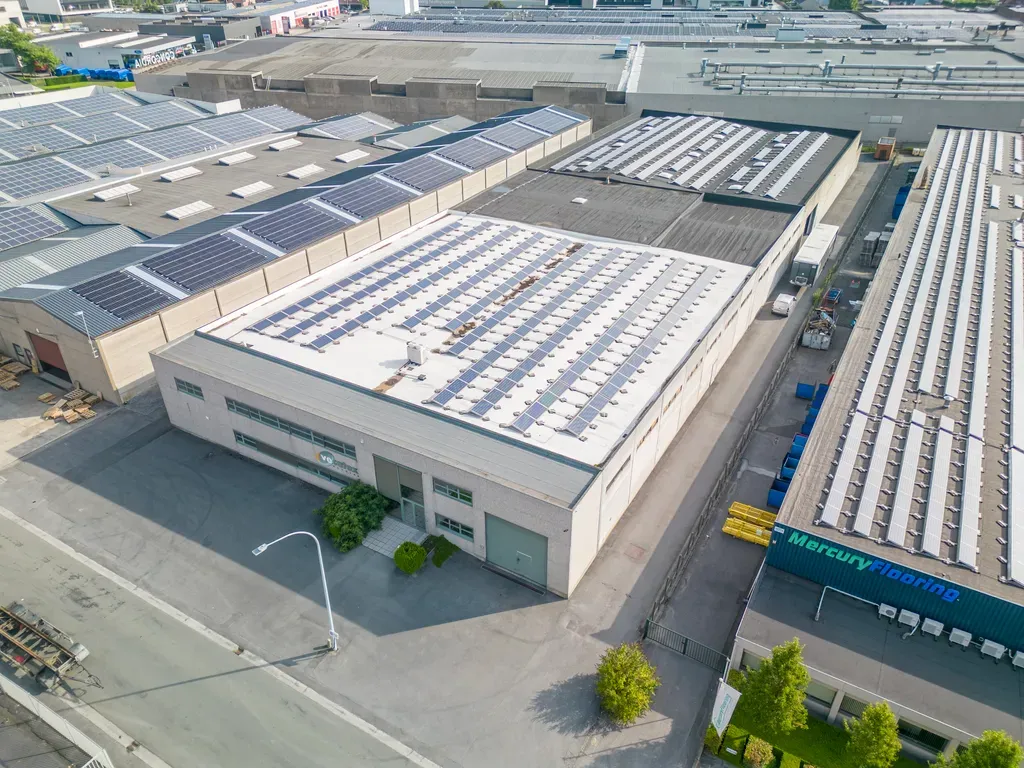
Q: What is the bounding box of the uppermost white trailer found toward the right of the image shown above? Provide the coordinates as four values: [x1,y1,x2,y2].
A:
[787,223,839,294]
